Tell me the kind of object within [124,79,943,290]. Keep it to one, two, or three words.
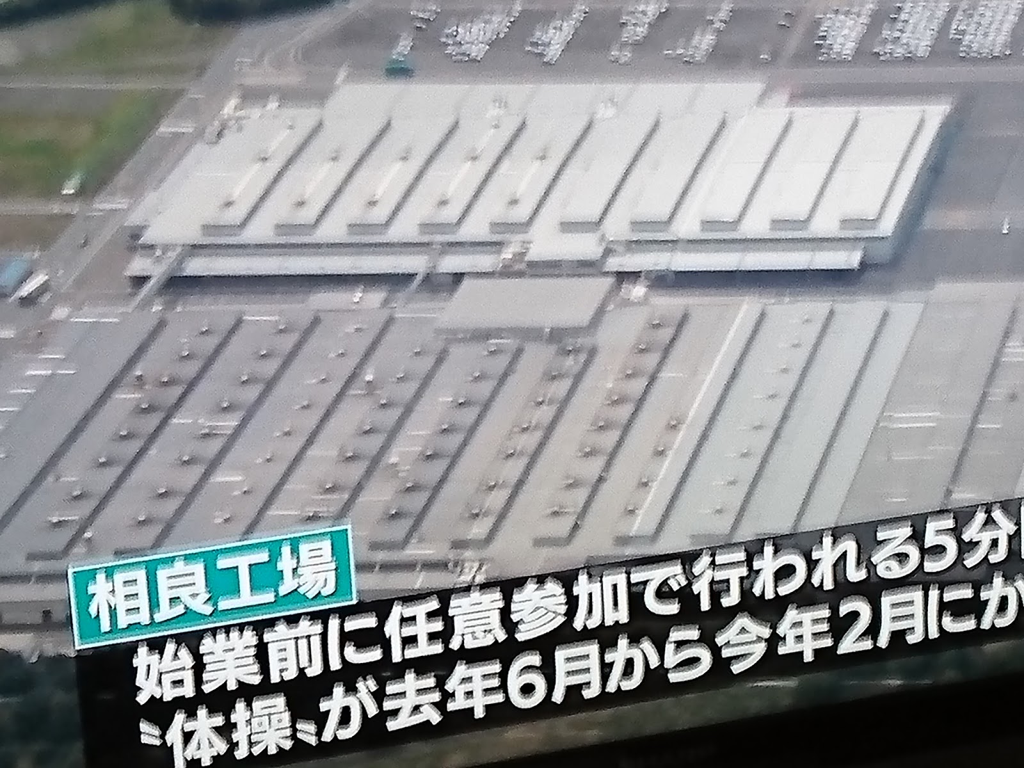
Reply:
building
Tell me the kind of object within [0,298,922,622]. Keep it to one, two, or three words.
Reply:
building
